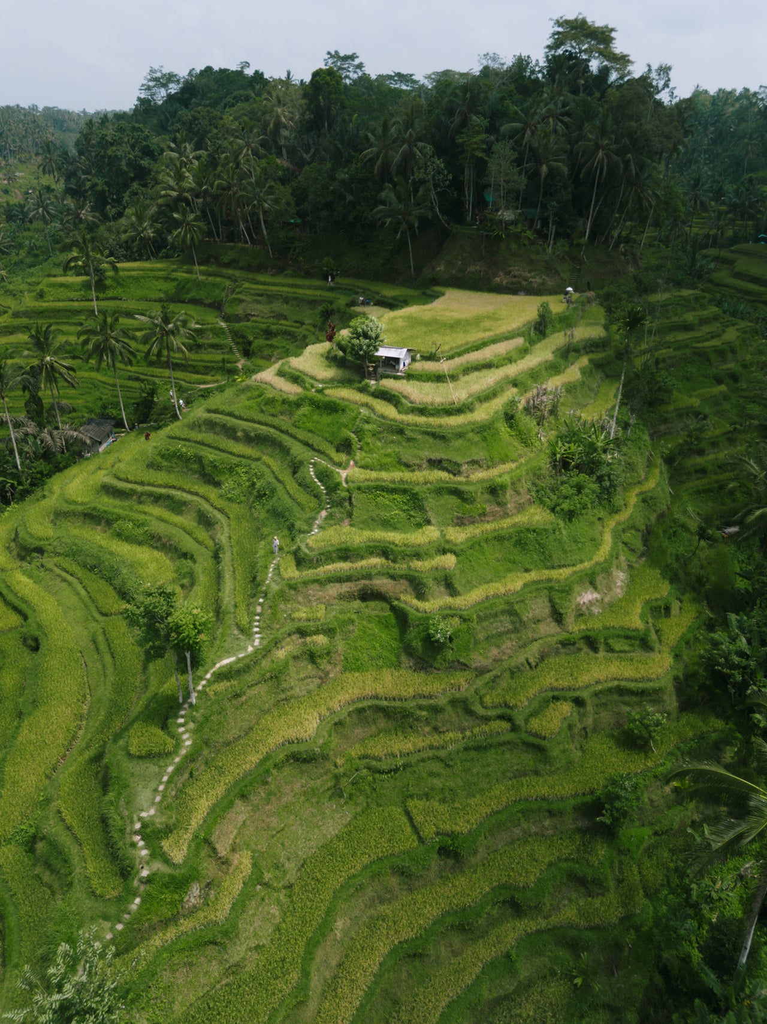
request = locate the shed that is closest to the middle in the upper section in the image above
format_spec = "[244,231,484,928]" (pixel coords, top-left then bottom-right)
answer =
[371,350,415,385]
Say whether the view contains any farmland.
Yes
